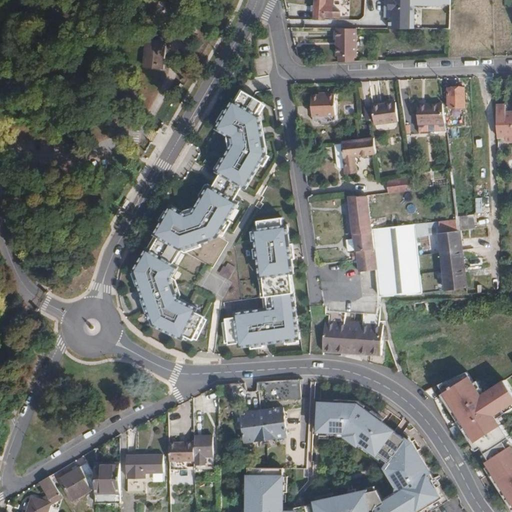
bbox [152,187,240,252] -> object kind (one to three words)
building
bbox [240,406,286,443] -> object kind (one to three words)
house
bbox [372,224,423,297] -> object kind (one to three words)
building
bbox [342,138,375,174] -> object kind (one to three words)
house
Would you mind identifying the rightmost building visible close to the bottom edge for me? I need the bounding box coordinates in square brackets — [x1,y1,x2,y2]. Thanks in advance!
[484,444,512,510]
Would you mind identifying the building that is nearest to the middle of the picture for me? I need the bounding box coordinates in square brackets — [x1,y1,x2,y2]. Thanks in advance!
[252,218,294,298]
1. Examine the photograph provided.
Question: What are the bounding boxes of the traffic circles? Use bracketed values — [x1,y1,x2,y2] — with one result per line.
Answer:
[60,296,124,358]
